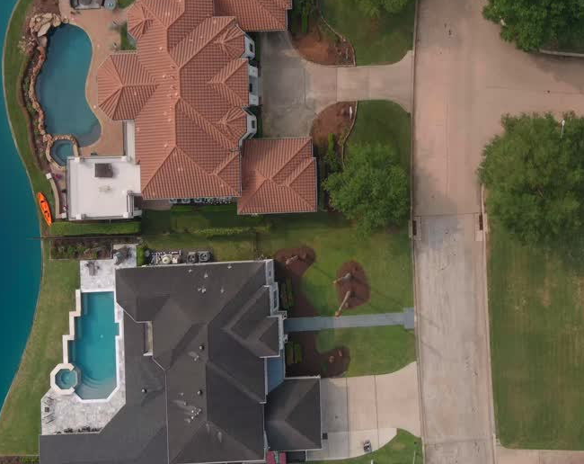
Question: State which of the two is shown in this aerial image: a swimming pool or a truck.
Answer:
swimming pool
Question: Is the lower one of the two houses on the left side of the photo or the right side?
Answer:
left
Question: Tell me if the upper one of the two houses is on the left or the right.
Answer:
left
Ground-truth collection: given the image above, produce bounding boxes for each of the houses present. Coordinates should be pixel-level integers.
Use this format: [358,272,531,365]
[67,0,318,218]
[39,256,323,464]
